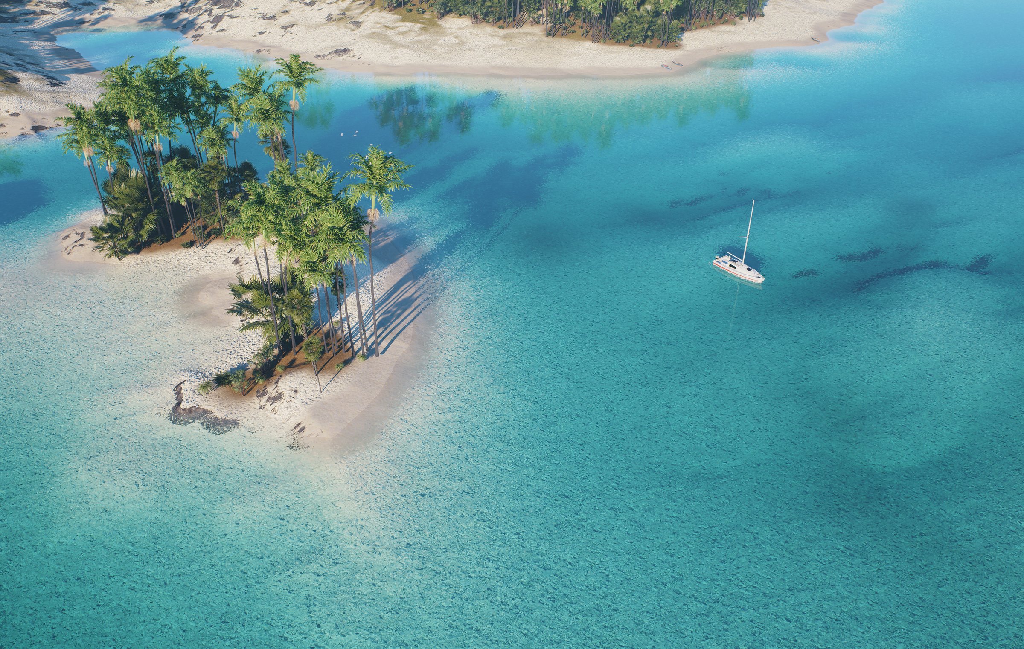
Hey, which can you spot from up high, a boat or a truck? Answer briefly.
boat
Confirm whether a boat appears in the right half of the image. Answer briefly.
Yes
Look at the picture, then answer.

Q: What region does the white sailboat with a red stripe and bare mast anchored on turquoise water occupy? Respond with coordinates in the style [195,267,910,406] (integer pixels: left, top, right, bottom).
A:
[711,201,763,281]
